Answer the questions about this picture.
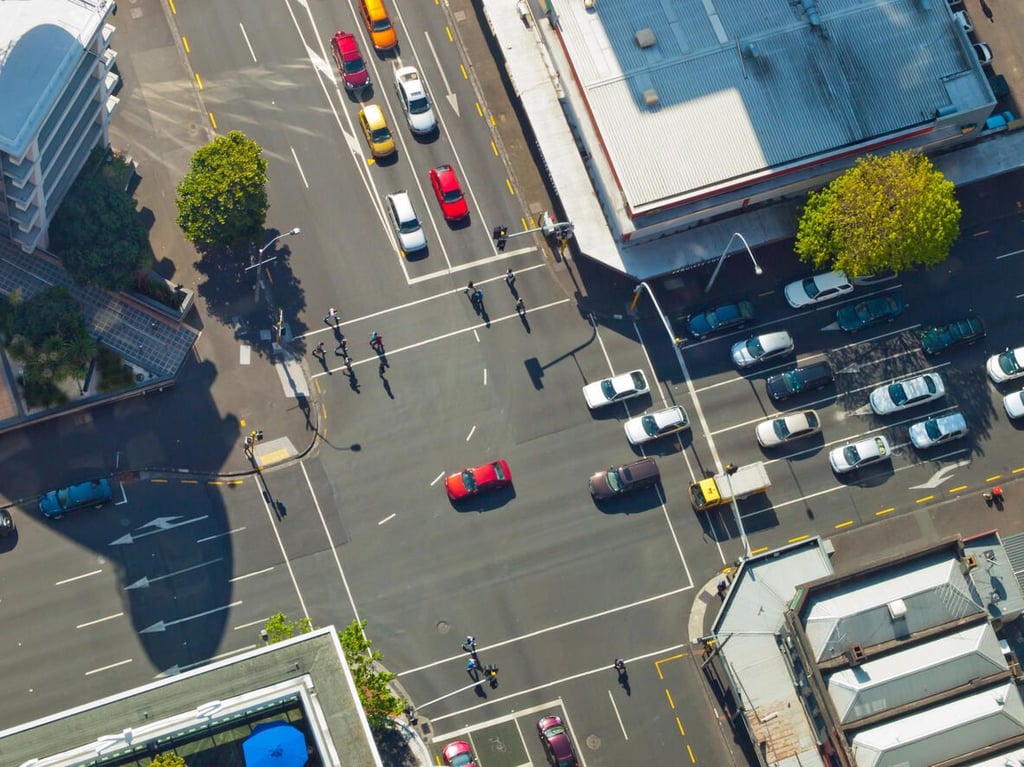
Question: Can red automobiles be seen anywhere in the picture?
Yes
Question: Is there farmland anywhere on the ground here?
No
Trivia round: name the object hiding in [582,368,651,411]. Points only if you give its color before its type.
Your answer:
white car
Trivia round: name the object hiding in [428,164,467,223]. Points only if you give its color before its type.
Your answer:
red car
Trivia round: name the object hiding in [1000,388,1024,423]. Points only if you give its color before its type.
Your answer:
white car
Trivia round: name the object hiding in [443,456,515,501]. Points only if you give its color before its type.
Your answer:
red car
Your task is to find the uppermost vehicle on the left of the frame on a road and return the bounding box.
[351,0,396,52]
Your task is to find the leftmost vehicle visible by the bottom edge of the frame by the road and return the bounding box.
[445,740,479,767]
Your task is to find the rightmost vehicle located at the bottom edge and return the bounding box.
[537,713,581,767]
